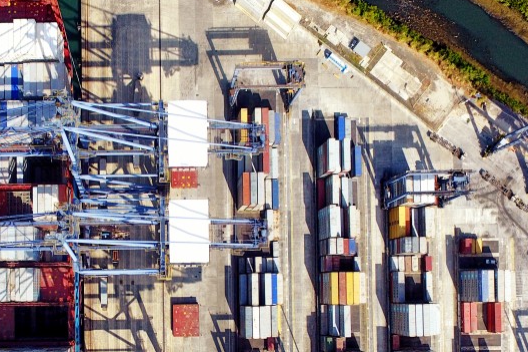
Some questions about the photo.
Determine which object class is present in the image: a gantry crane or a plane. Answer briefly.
gantry crane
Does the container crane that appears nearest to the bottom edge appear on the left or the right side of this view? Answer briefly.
left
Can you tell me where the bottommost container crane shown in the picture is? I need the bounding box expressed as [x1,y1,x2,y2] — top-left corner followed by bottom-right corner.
[0,192,268,284]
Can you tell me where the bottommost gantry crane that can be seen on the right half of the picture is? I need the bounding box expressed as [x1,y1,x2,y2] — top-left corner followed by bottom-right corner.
[381,167,480,210]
